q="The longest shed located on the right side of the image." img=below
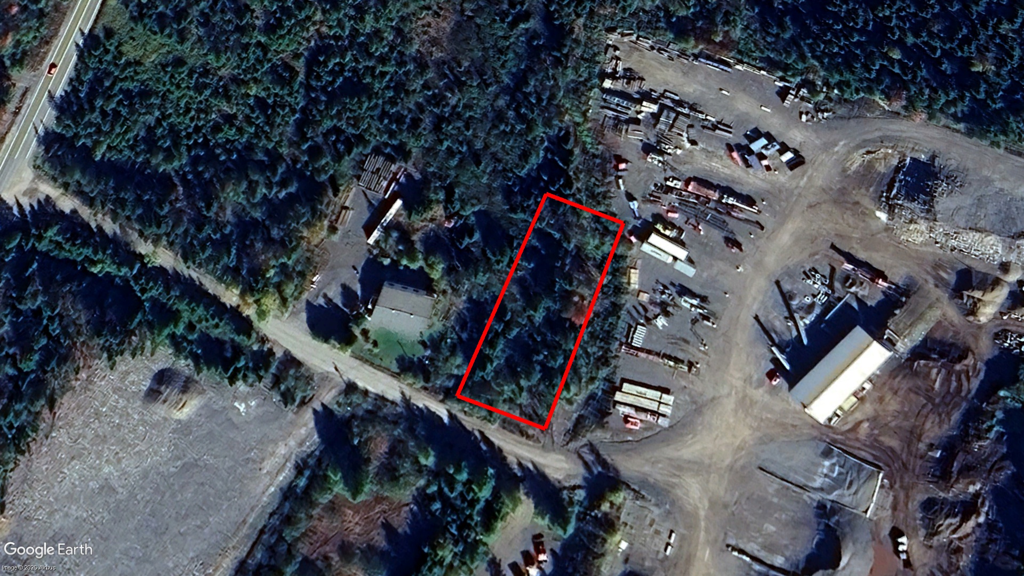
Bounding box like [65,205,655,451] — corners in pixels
[790,320,893,424]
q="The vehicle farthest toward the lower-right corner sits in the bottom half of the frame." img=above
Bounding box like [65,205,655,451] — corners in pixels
[893,531,909,561]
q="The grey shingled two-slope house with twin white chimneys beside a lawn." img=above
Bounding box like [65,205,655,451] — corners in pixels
[368,276,434,338]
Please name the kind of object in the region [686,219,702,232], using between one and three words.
vehicle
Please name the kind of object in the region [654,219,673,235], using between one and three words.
work vehicle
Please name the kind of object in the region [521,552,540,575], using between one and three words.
vehicle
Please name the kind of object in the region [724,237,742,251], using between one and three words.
car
